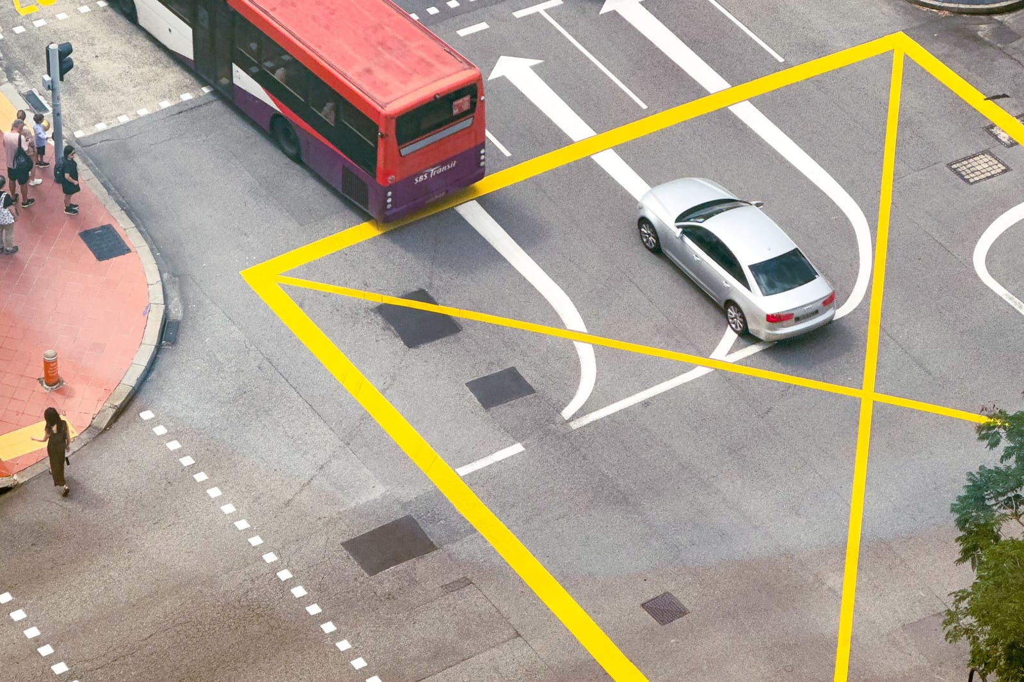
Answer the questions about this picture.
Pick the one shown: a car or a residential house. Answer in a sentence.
Looking from above, you can make out a car.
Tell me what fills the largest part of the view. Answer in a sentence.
The scene is dominated by paved ground.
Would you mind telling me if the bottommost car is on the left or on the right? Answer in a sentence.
The bottommost car sits on the right side.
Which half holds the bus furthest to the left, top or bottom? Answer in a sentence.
Seen from above, the bus furthest to the left lies in the top half of the view.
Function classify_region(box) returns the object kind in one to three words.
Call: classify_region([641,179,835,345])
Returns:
car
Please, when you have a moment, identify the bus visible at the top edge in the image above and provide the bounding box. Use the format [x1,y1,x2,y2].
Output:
[111,0,488,221]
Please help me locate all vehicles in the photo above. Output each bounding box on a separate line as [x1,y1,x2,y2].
[641,179,835,345]
[111,0,488,221]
